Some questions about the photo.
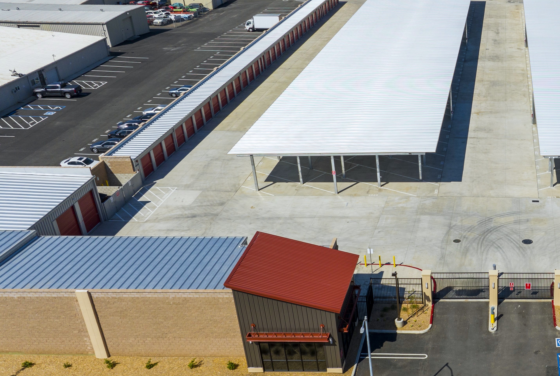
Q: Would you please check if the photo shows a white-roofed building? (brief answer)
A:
Yes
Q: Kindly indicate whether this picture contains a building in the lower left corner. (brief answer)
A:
Yes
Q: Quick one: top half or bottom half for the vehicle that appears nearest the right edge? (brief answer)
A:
top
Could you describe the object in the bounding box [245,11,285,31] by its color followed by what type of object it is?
white vehicle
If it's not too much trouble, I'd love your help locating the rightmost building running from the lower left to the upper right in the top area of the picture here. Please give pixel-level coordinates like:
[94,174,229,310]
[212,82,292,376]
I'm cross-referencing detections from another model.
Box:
[102,0,335,182]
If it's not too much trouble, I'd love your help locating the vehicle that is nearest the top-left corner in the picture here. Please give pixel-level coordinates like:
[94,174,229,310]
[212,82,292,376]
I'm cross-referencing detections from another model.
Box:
[29,79,84,98]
